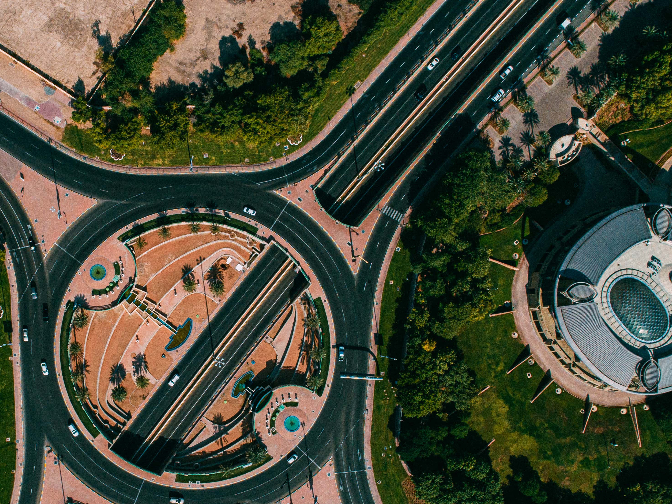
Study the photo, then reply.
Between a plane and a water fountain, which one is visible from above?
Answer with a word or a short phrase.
water fountain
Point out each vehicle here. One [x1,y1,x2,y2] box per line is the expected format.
[450,46,462,60]
[28,236,36,251]
[338,346,345,362]
[23,327,28,341]
[286,454,298,464]
[490,85,504,99]
[41,361,49,376]
[427,57,439,70]
[289,264,300,277]
[30,284,38,299]
[169,497,184,504]
[556,13,574,31]
[499,65,514,80]
[67,422,79,437]
[167,371,180,385]
[242,206,257,216]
